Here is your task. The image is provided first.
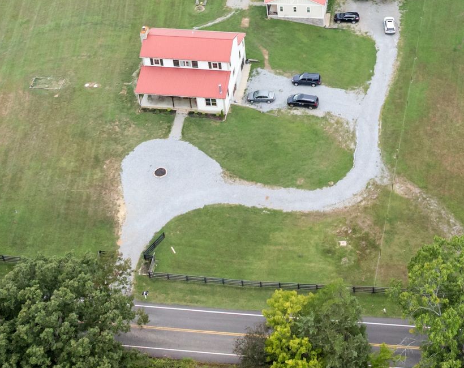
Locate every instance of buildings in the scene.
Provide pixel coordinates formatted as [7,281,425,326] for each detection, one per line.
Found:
[132,18,248,115]
[263,0,328,26]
